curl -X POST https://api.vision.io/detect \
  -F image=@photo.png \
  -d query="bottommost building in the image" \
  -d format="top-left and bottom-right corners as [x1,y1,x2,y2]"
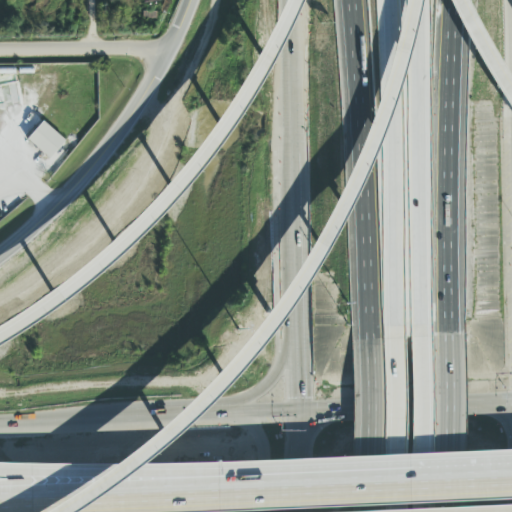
[28,120,66,158]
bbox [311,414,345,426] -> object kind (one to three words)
vehicle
